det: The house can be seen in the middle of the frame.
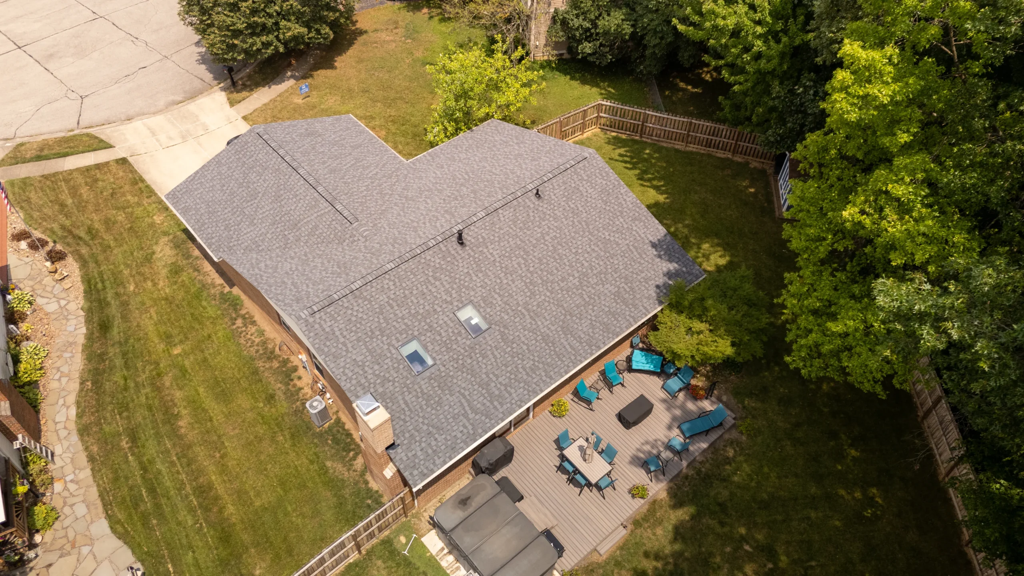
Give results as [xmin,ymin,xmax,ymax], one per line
[163,112,705,515]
